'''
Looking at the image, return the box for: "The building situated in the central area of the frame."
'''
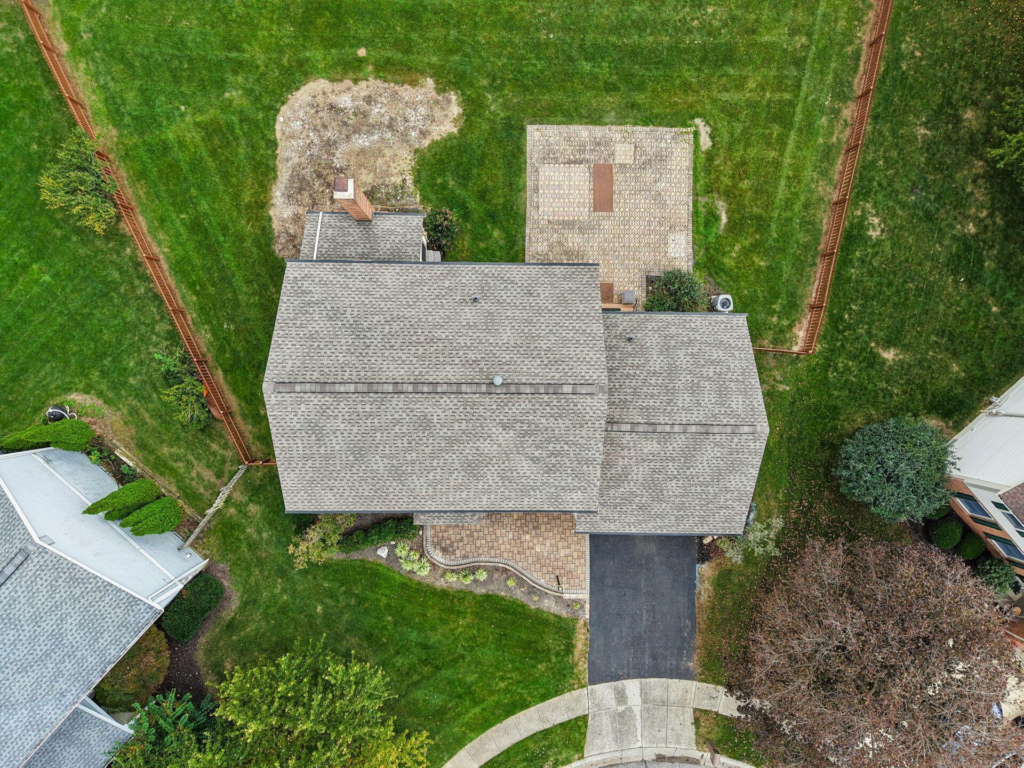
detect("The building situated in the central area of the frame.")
[262,176,769,537]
